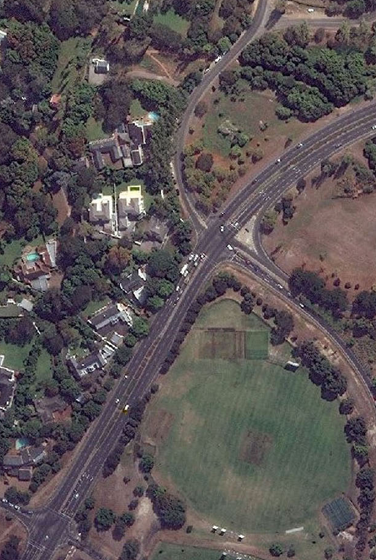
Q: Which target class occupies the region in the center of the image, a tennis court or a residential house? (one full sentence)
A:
It is a residential house that can be seen in the center of the image.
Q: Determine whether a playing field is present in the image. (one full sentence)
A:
Yes, there's a playing field down there.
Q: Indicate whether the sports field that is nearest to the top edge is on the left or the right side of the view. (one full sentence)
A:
You can find the sports field that is nearest to the top edge on the right side of the picture.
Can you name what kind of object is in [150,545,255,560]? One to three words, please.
sports field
